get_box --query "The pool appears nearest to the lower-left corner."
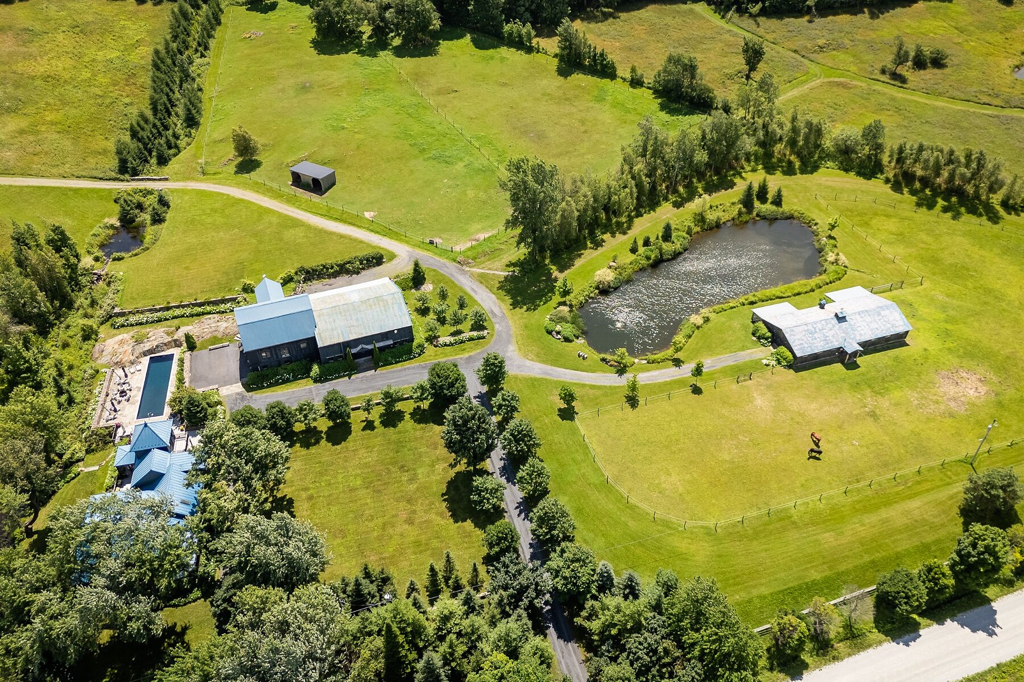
[134,351,177,421]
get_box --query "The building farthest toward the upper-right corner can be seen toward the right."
[751,286,913,367]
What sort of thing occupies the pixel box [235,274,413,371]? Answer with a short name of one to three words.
barn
